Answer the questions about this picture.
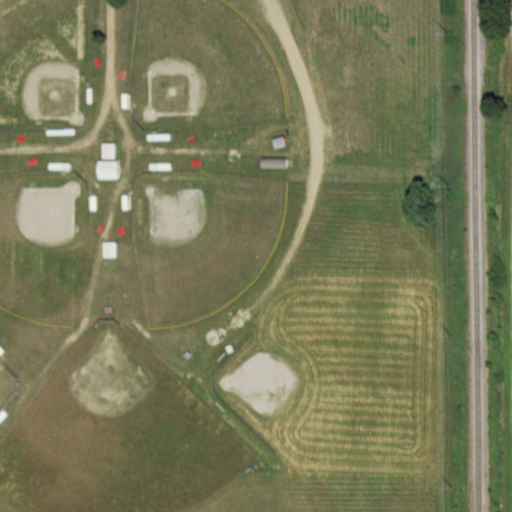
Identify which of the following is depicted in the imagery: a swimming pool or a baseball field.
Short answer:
baseball field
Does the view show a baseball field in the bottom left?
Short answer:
Yes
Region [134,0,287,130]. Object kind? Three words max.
baseball field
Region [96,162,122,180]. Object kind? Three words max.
building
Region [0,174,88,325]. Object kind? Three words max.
baseball field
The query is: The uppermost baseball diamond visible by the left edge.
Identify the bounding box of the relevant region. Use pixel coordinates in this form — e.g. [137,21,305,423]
[0,0,87,132]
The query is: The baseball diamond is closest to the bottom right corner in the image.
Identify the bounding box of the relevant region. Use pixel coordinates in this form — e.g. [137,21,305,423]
[214,341,300,425]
